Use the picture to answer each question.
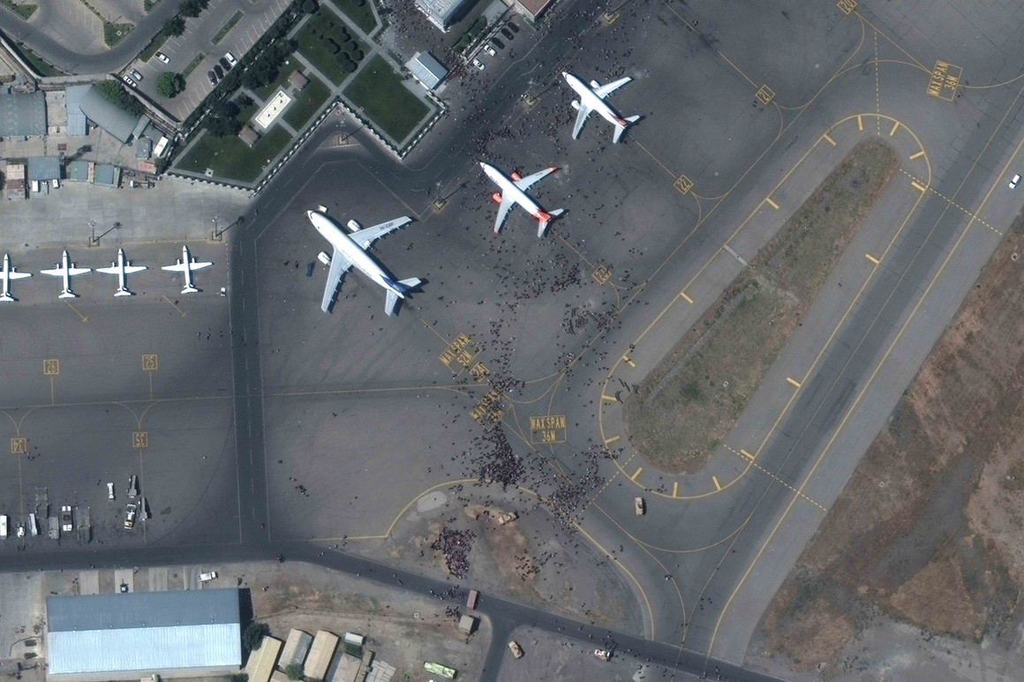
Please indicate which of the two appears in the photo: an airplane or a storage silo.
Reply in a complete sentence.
The image shows an airplane.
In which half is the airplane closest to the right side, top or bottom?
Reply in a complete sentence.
Seen from above, the airplane closest to the right side lies in the top half of the view.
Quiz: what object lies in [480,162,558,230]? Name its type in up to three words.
airplane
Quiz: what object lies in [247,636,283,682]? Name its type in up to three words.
shed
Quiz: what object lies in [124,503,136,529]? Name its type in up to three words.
vehicle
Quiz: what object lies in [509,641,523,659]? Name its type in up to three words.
vehicle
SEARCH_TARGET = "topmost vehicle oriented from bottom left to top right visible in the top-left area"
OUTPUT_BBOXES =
[152,135,168,156]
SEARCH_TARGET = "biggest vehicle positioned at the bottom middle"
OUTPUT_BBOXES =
[425,659,455,677]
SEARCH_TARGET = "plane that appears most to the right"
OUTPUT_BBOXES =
[565,72,638,138]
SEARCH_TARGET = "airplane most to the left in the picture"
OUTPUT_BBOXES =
[0,254,32,299]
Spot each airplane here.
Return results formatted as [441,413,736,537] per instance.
[96,248,146,294]
[565,72,638,138]
[0,254,32,299]
[480,162,558,230]
[162,245,212,290]
[41,250,91,295]
[307,210,415,309]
